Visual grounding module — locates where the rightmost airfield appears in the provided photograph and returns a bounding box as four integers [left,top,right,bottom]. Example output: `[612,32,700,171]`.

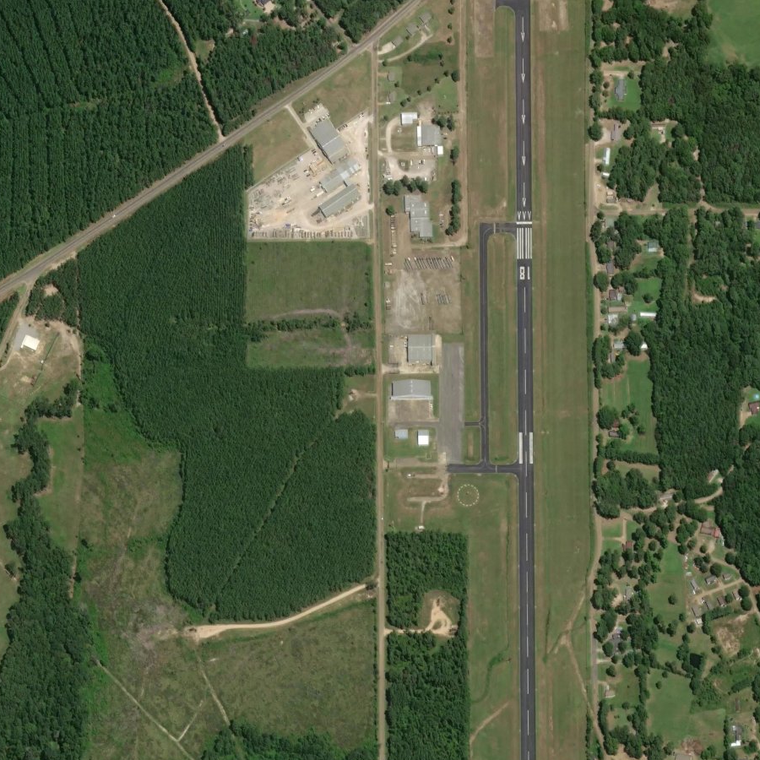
[388,0,537,760]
